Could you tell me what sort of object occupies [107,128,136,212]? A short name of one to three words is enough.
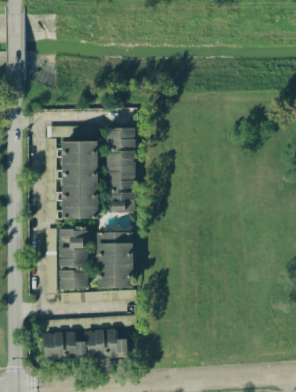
building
